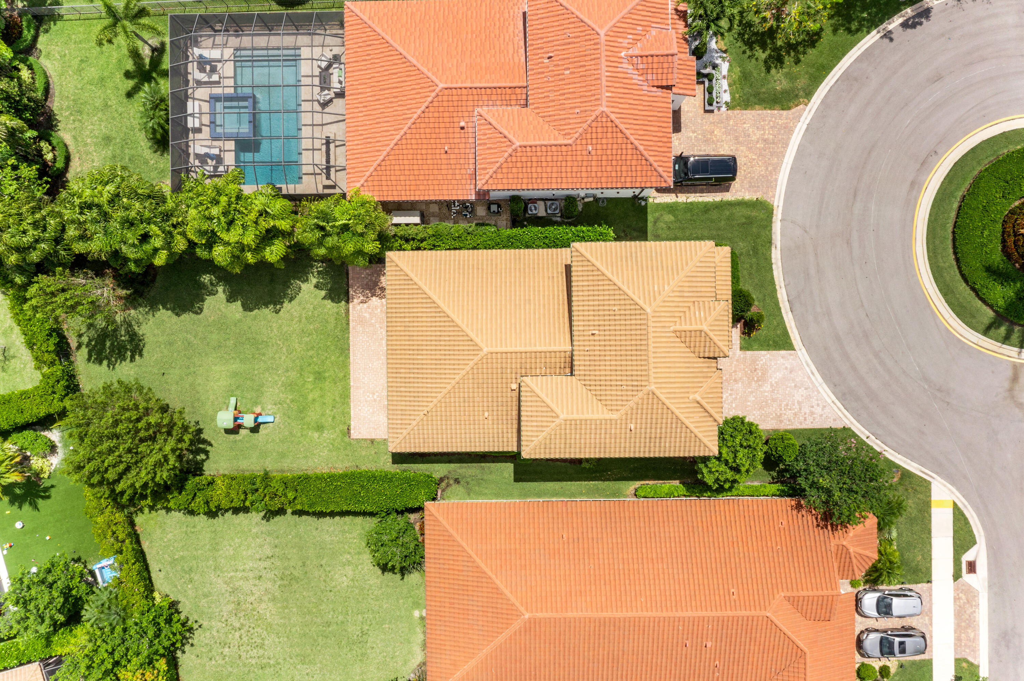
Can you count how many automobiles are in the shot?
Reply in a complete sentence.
The number of automobiles here is 3.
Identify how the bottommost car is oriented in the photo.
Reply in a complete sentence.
The bottommost car is laid out horizontally.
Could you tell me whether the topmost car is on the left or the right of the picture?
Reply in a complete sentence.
You can find the topmost car on the right side of the picture.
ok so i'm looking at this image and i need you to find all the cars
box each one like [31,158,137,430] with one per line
[859,626,931,660]
[674,152,737,185]
[857,587,926,620]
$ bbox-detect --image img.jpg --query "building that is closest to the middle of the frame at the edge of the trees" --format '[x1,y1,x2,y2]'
[384,238,734,460]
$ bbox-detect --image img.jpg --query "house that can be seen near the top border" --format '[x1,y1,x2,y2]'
[342,0,698,201]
